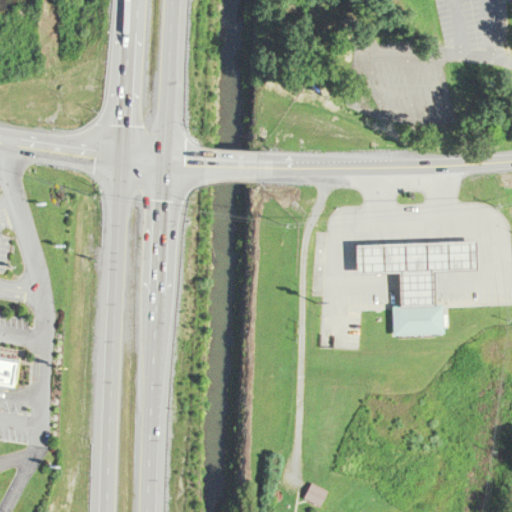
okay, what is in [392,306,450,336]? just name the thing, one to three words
building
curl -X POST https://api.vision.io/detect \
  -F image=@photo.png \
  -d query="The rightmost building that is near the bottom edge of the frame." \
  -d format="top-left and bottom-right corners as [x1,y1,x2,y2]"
[304,484,328,507]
